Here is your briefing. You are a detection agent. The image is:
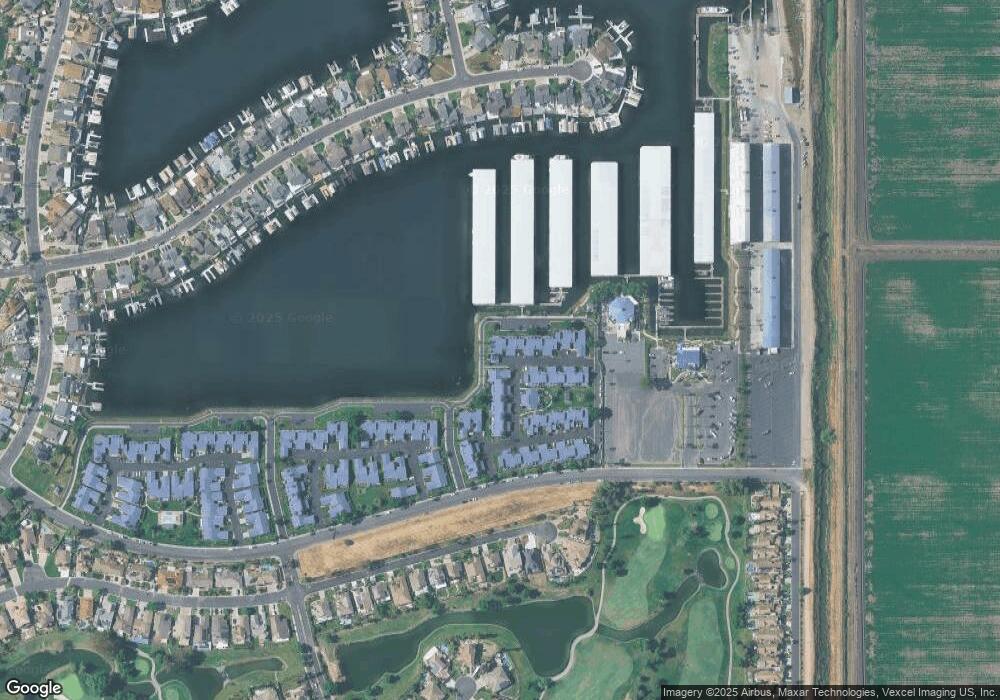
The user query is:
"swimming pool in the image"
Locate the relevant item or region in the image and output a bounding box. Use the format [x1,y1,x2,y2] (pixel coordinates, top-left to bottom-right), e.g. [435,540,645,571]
[158,511,184,525]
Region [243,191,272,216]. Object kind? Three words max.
house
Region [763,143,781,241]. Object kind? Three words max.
shed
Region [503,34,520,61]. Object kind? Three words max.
house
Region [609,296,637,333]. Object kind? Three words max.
building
